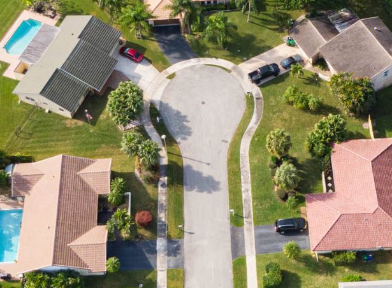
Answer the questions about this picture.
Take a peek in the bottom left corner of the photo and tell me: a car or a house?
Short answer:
house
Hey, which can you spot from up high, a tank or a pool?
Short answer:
pool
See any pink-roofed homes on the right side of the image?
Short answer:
Yes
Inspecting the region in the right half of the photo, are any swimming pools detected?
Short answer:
No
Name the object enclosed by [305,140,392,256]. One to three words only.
house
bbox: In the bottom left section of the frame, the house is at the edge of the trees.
[11,155,114,281]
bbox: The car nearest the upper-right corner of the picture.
[278,53,305,71]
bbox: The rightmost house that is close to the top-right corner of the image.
[289,10,392,92]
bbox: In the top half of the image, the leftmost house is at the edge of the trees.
[12,14,134,121]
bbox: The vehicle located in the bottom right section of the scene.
[274,216,307,234]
